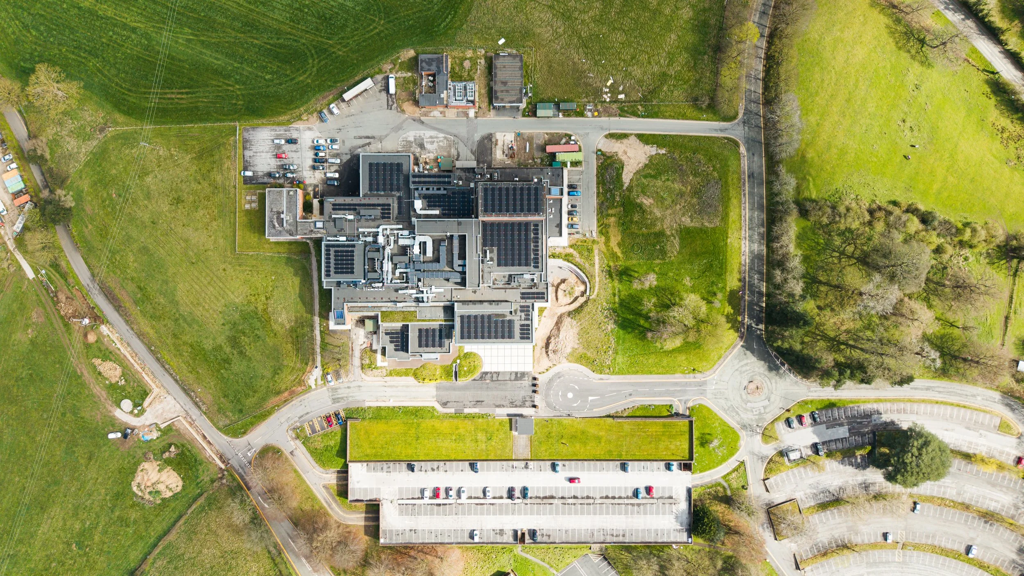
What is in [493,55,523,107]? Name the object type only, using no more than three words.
building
